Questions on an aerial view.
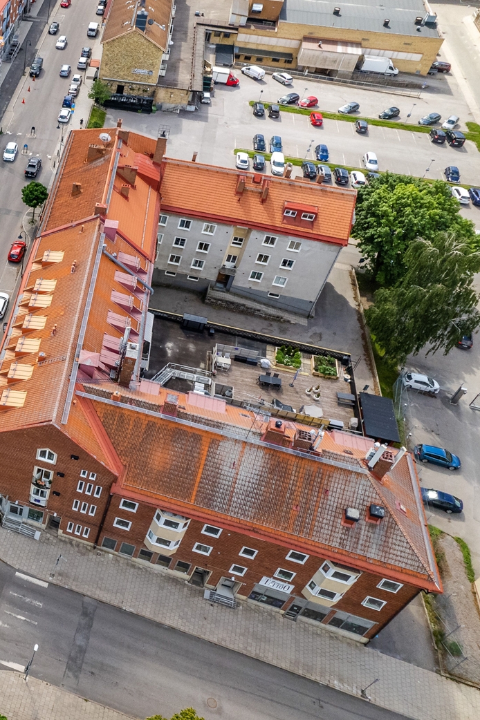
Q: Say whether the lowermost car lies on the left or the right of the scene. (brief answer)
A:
right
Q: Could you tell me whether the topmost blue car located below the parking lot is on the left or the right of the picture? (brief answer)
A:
right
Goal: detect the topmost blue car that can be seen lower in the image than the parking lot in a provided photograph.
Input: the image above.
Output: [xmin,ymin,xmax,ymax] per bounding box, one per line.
[409,440,466,474]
